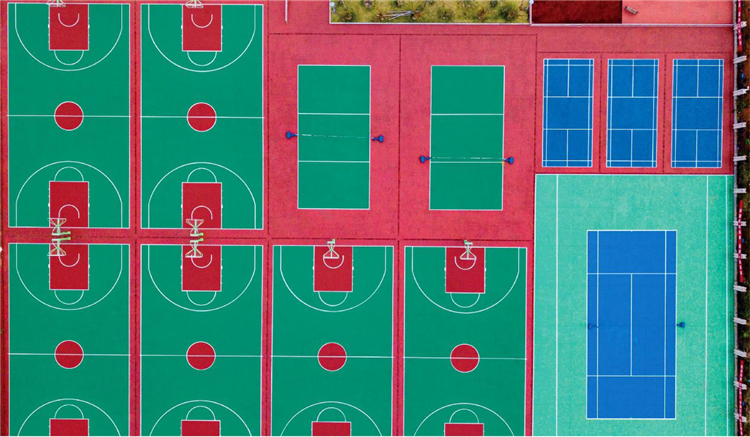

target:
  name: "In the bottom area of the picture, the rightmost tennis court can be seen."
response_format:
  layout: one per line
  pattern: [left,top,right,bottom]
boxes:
[533,173,734,437]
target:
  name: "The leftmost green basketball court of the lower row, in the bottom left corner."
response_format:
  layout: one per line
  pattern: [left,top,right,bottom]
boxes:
[7,242,130,437]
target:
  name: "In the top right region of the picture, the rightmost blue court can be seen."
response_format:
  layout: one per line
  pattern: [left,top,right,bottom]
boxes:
[672,59,724,168]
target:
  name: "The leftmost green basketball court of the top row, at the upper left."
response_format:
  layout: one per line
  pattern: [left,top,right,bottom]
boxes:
[7,3,130,228]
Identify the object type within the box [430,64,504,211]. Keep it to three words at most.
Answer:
sports court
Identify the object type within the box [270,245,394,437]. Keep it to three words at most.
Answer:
basketball court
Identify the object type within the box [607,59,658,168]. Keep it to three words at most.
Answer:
sports court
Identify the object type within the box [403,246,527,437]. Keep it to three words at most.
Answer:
basketball court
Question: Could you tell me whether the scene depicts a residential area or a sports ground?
sports ground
